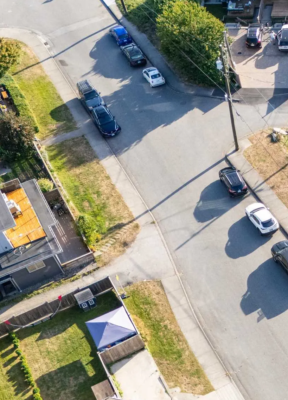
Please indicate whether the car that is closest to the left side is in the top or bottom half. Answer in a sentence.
The car that is closest to the left side is in the top half of the image.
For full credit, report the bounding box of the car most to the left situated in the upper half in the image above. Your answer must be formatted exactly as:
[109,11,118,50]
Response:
[75,76,105,113]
